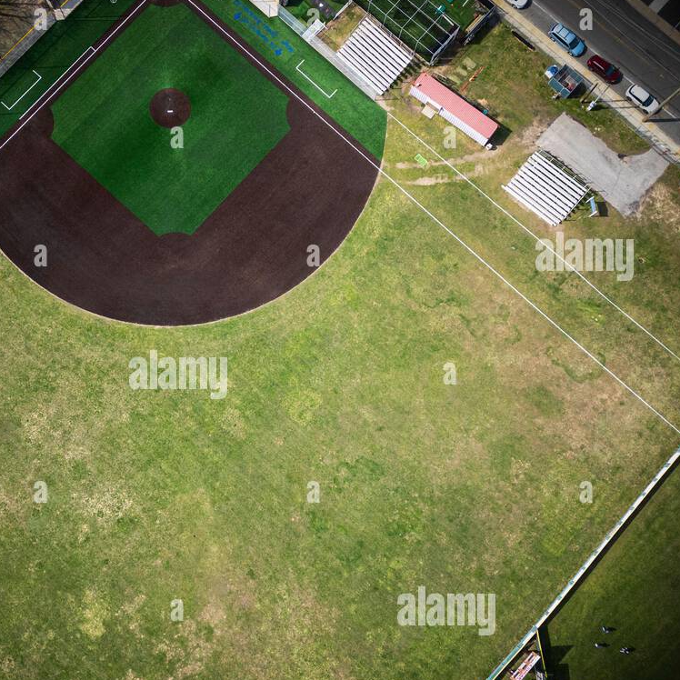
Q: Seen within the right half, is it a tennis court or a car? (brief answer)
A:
car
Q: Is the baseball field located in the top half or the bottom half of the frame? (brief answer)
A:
top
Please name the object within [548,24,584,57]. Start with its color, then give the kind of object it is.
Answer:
blue car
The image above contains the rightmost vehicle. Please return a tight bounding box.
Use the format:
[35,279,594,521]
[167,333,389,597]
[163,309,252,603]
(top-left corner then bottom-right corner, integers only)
[625,84,657,112]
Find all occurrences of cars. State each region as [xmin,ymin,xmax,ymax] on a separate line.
[548,24,584,57]
[625,84,657,112]
[584,53,621,85]
[507,0,528,9]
